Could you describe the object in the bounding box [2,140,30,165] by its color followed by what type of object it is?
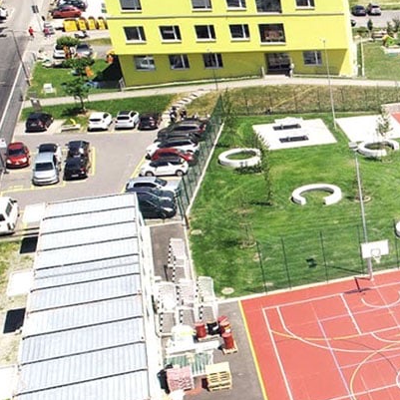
red car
